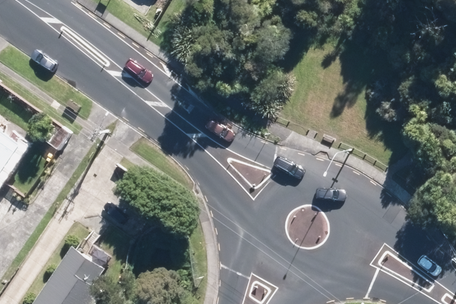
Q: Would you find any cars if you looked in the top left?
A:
Yes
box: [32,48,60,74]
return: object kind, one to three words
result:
car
